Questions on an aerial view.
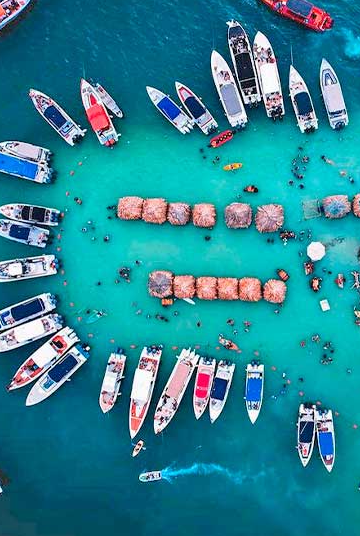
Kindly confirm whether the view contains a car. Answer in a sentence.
No, I can see no car in this picture.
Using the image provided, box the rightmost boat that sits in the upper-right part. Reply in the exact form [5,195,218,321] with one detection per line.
[320,58,347,130]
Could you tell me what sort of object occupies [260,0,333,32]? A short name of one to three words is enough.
boat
